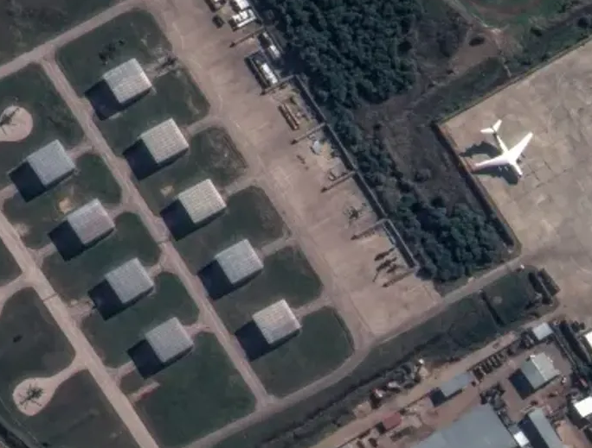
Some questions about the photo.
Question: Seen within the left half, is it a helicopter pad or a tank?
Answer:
helicopter pad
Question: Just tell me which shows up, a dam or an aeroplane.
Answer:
aeroplane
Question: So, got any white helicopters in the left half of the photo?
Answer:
No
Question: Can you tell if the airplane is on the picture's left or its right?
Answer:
right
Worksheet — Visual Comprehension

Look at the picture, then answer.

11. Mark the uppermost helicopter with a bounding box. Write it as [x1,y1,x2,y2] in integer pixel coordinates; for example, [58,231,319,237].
[0,104,20,130]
